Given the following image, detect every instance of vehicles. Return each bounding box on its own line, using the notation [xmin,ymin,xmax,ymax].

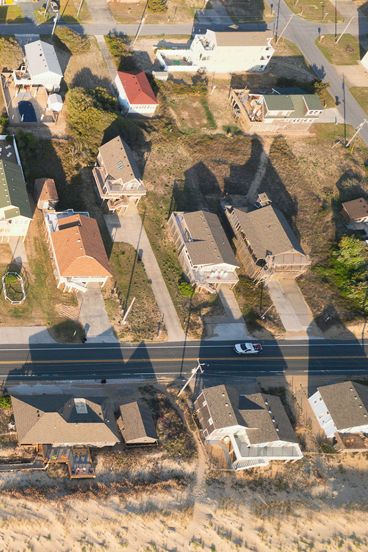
[232,342,265,354]
[50,2,60,12]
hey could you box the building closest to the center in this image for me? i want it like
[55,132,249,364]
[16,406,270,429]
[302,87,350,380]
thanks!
[153,211,246,303]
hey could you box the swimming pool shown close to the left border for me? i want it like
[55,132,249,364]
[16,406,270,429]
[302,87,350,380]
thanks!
[17,100,38,123]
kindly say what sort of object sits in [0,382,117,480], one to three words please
house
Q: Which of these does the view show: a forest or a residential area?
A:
residential area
